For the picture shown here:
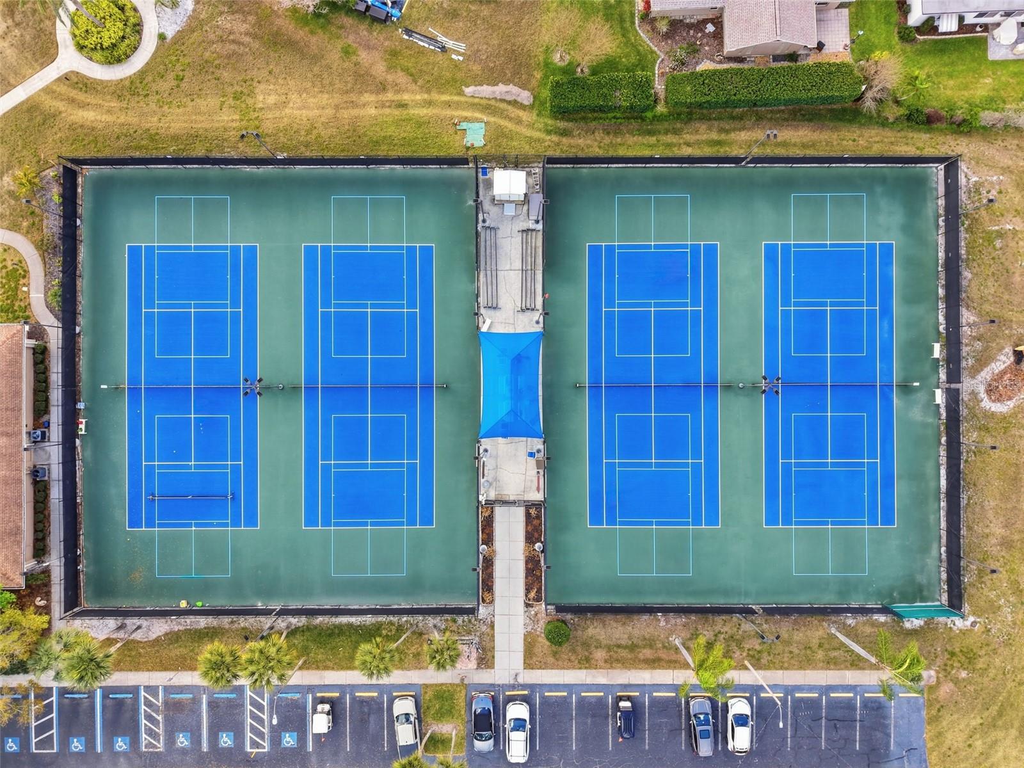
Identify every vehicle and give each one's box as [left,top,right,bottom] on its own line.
[469,691,496,749]
[616,693,634,739]
[687,692,717,755]
[390,694,421,768]
[314,696,334,742]
[727,693,756,755]
[503,697,532,762]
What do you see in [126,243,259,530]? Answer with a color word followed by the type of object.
blue tennis court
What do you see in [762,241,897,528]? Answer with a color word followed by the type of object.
blue tennis court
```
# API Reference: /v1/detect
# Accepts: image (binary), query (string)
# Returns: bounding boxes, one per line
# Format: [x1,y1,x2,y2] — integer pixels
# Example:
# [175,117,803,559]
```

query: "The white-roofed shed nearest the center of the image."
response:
[494,167,526,199]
